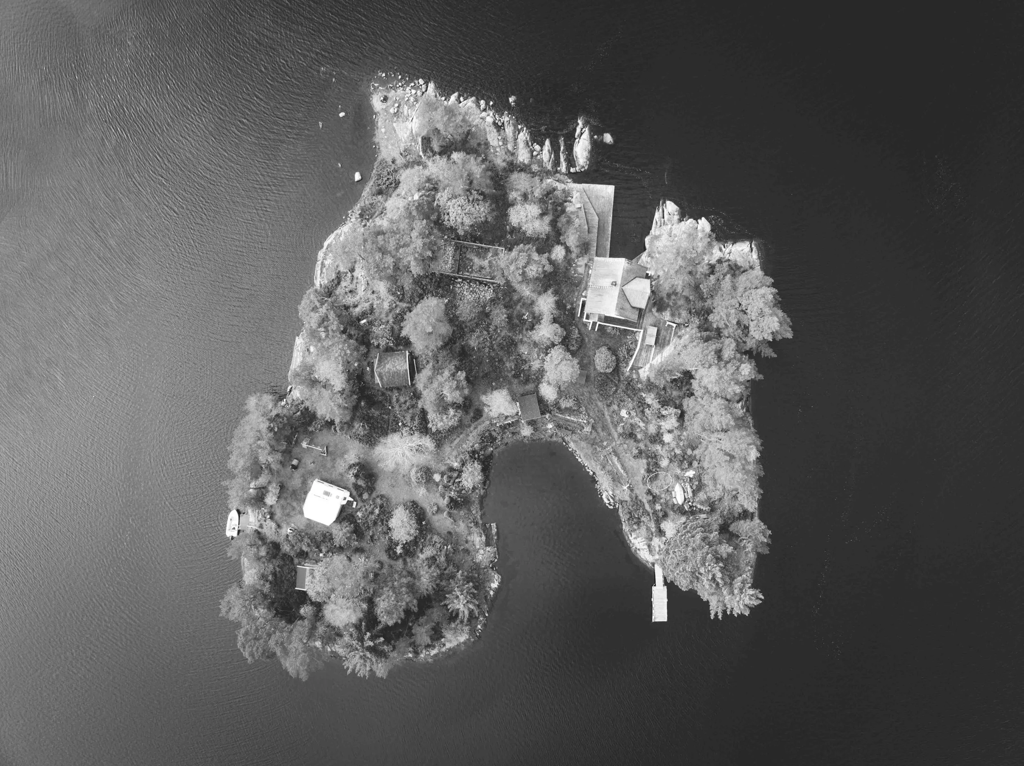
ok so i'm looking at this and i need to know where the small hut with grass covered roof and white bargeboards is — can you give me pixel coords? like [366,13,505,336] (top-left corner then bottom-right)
[374,351,411,388]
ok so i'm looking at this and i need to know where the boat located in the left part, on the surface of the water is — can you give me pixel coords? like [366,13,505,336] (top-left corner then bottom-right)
[226,509,239,540]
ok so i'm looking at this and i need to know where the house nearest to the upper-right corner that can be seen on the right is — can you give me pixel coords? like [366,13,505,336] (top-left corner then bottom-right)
[584,257,650,322]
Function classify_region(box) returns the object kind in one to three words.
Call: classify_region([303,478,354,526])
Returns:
house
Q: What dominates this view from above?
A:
water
